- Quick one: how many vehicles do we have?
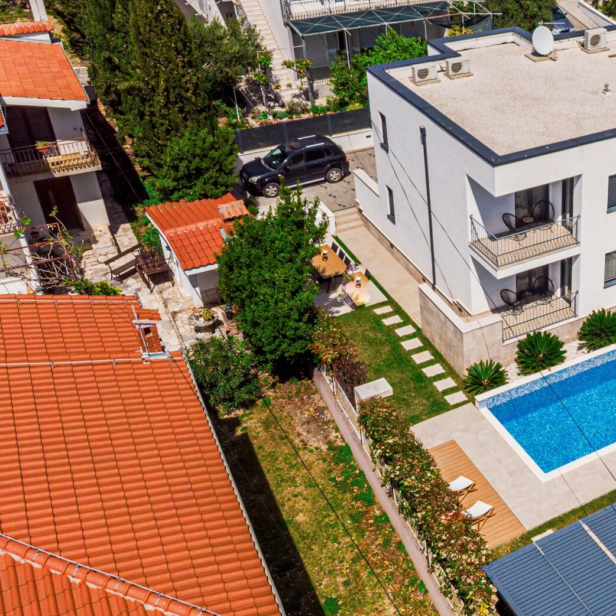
2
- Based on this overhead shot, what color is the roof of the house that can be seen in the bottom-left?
orange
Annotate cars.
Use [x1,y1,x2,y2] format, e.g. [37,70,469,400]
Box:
[238,129,349,194]
[533,4,581,33]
